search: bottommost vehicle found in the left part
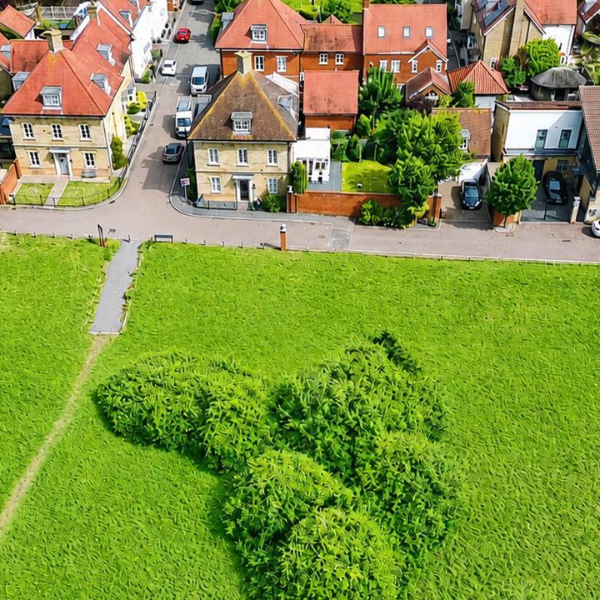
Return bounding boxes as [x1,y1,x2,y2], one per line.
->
[159,141,184,166]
